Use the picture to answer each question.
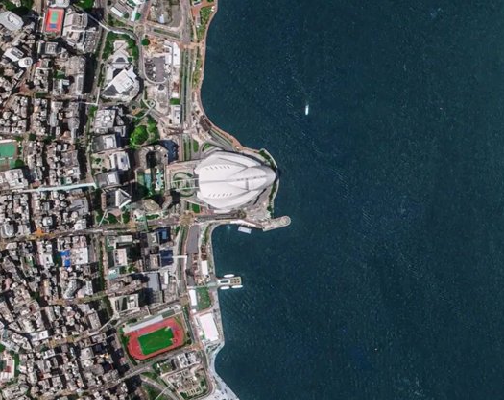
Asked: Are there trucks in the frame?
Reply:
No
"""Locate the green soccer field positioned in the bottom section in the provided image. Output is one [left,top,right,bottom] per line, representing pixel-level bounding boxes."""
[135,326,172,355]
